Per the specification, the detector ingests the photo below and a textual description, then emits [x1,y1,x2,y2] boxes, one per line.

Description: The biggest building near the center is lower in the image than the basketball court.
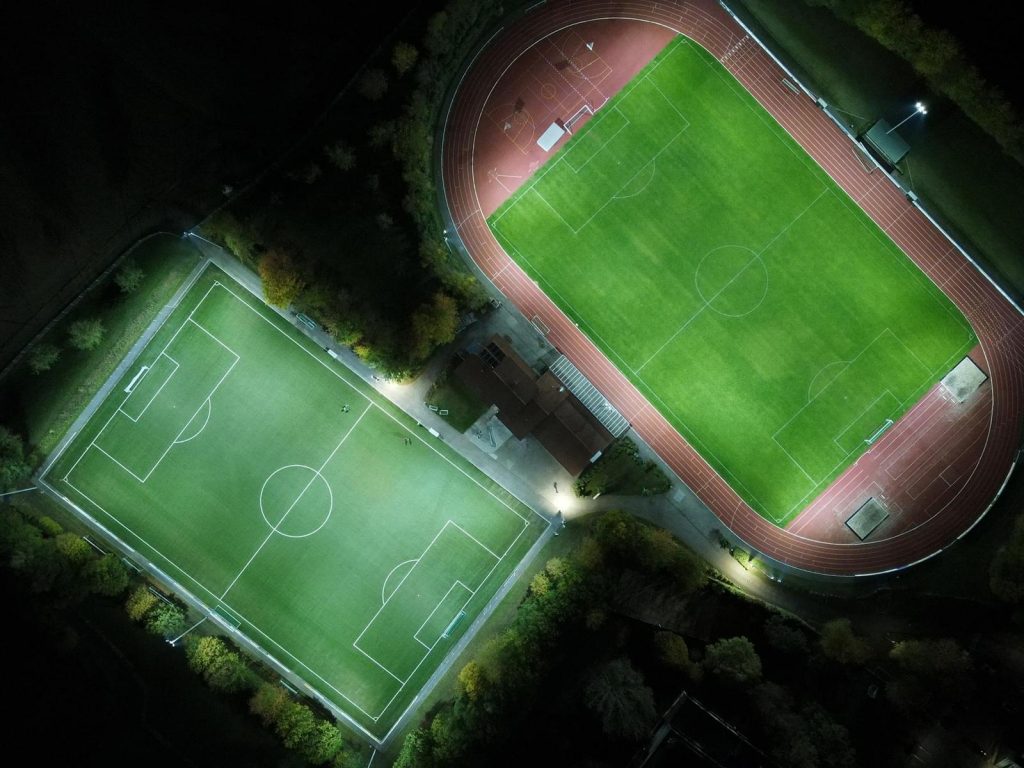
[453,330,614,476]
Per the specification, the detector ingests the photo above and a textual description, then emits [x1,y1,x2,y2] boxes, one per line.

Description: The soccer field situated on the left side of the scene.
[43,263,550,743]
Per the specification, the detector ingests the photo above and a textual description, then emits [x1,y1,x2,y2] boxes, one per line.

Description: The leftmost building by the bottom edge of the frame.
[631,685,787,768]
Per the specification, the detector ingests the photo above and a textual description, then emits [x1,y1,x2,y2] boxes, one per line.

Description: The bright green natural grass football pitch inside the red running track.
[486,33,979,529]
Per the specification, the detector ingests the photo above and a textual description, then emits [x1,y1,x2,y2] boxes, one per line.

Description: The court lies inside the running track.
[488,29,609,149]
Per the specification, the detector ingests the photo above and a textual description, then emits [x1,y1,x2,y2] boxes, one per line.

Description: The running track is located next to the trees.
[443,0,1024,575]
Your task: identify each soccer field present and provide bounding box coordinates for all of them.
[43,263,550,743]
[486,33,979,529]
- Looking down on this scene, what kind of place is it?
sports ground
